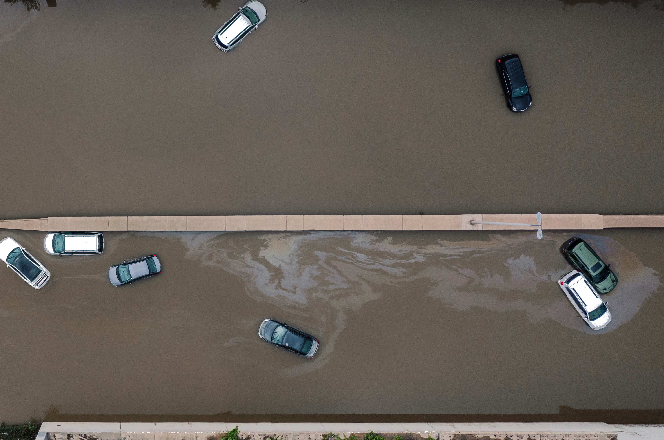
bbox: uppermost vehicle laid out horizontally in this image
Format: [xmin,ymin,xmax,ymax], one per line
[44,231,103,259]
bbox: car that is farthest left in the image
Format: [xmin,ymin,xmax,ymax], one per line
[0,236,53,291]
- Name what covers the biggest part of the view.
water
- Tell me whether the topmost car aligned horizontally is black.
No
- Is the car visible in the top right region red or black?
black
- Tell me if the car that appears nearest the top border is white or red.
white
